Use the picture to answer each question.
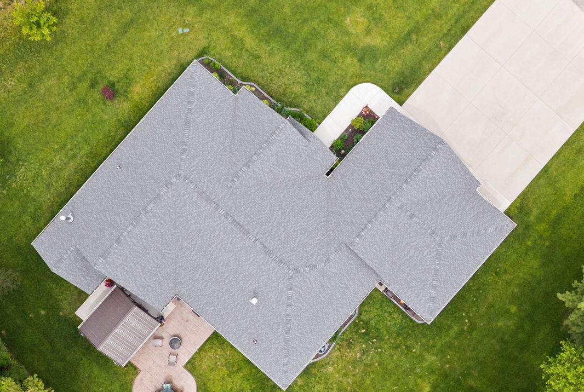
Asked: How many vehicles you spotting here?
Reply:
none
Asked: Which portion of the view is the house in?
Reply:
center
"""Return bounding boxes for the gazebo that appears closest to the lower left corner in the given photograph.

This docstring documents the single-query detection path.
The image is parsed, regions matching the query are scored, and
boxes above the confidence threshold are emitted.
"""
[78,286,163,367]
